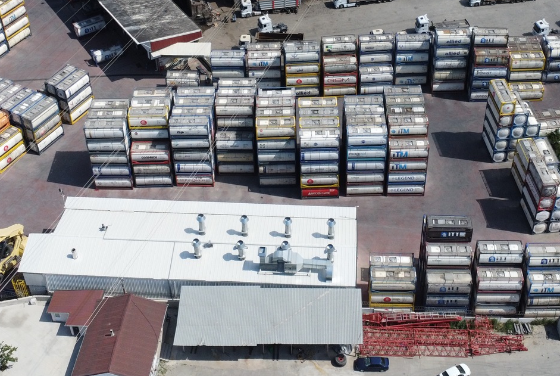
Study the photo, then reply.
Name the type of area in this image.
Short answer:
industrial area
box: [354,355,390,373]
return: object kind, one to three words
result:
car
